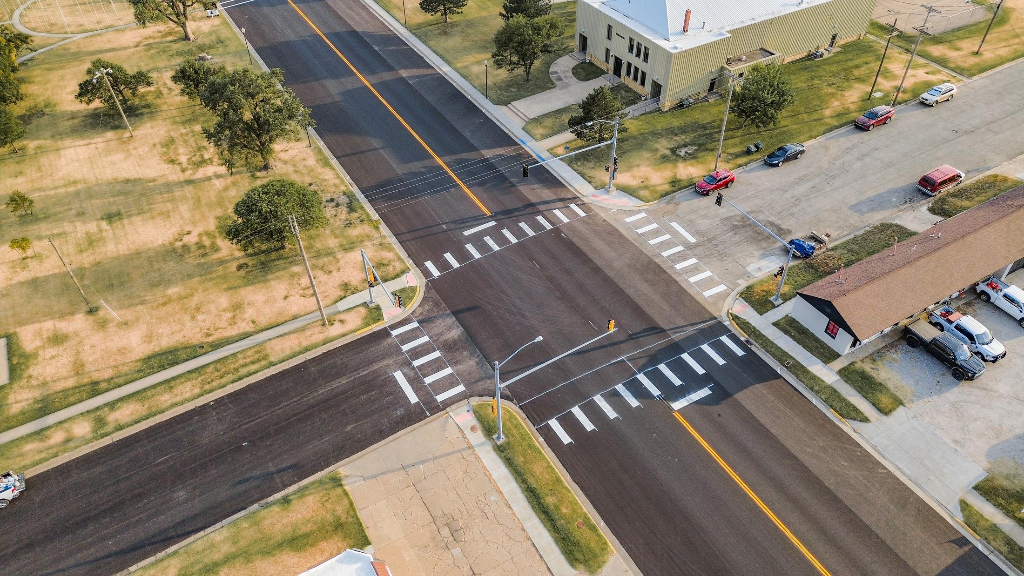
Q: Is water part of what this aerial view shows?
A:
No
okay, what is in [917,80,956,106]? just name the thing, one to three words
car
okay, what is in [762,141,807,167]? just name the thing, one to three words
car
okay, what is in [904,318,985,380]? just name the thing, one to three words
truck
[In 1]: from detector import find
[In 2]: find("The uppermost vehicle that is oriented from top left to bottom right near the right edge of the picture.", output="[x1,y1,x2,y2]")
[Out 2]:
[973,275,1024,327]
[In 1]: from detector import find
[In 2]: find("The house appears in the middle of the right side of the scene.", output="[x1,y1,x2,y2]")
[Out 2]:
[791,173,1024,354]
